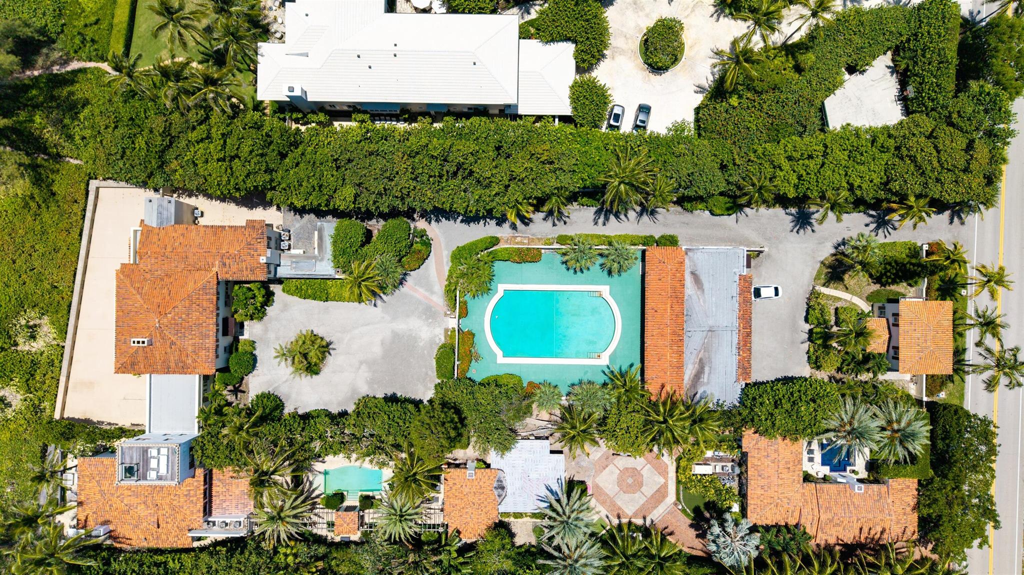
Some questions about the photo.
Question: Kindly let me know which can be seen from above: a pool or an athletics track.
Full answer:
Visible in the photo is a pool.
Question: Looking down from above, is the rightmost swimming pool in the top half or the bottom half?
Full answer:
Seen from above, the rightmost swimming pool lies in the bottom half of the view.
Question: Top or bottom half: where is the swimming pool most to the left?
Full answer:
Seen from above, the swimming pool most to the left lies in the bottom half of the view.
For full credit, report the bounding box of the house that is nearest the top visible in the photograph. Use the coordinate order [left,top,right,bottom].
[257,0,575,122]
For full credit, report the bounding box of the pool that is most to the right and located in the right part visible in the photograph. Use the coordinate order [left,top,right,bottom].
[821,443,855,472]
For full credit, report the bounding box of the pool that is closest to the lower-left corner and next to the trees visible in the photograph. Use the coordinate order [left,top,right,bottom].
[325,466,382,500]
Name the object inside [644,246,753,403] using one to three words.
building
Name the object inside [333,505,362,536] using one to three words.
building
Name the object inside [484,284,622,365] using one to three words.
swimming pool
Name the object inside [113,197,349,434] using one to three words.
house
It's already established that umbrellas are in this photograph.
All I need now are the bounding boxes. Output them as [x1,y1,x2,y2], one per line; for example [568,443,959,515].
[432,0,448,13]
[411,0,434,12]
